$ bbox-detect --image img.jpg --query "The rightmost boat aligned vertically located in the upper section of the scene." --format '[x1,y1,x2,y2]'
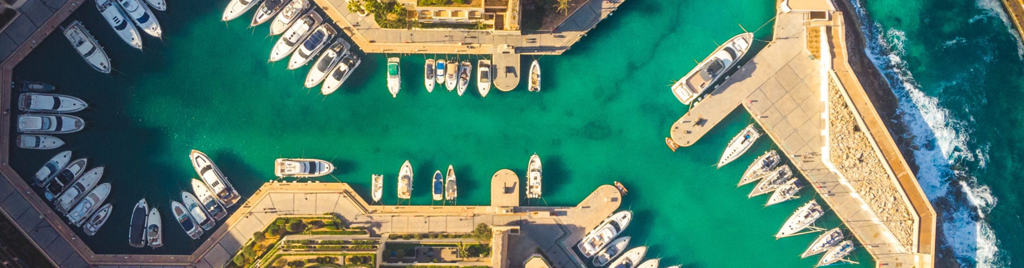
[528,56,541,94]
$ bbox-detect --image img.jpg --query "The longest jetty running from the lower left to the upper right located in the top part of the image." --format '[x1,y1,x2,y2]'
[669,51,764,146]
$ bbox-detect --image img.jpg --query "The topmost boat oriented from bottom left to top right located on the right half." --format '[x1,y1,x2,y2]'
[674,17,775,106]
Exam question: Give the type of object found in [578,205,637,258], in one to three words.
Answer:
boat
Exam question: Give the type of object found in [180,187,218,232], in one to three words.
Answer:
boat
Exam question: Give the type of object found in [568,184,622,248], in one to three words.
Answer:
pier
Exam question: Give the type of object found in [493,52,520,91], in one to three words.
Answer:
pier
